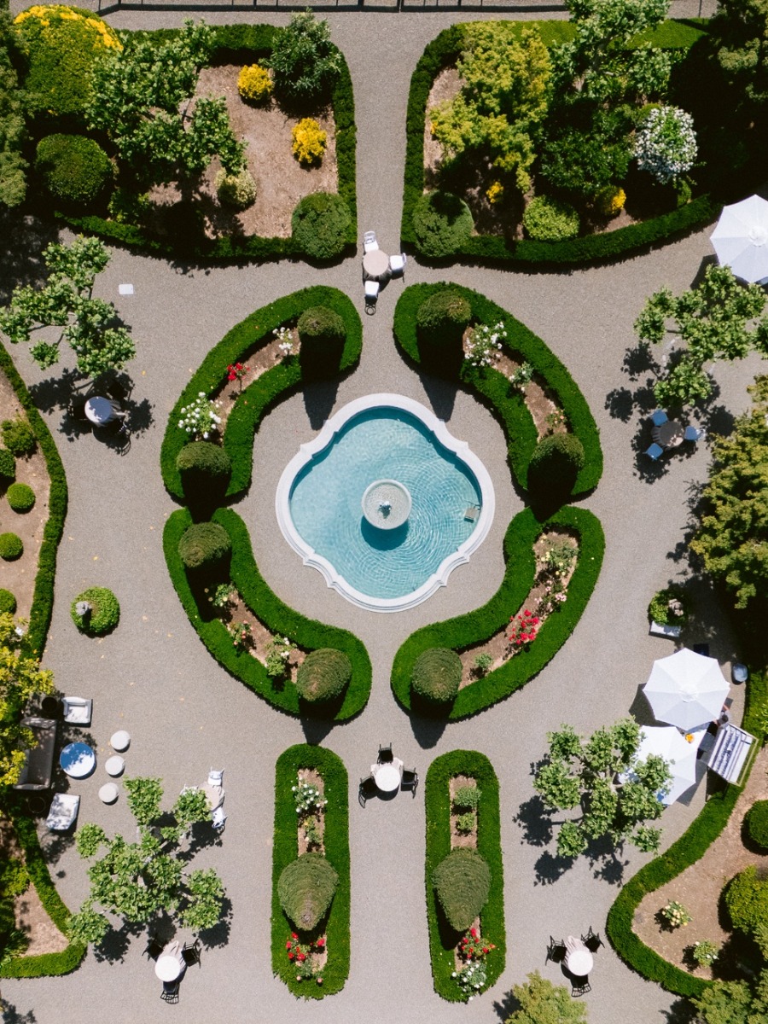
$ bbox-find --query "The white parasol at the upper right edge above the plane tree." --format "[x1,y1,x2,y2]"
[706,198,768,283]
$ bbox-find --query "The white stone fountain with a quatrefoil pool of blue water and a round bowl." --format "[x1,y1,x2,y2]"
[276,393,494,612]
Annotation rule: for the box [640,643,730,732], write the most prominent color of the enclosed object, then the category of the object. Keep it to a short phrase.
white umbrella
